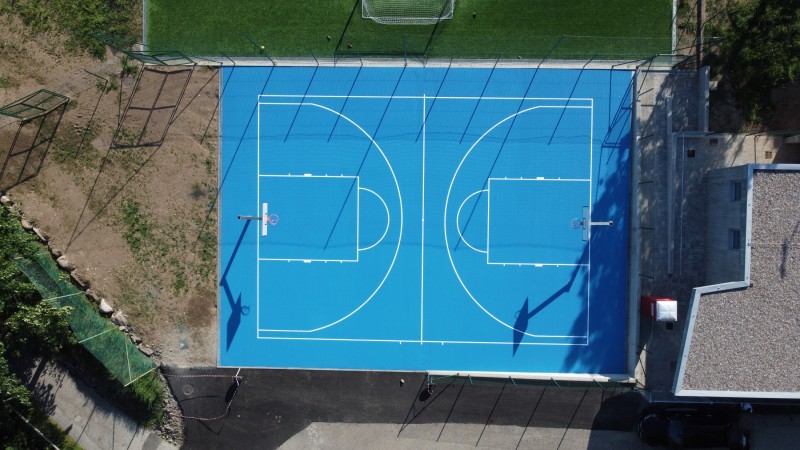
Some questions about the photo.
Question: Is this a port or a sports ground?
sports ground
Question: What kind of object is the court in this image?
basketball court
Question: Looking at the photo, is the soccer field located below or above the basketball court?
above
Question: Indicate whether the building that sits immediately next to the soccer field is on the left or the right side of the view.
right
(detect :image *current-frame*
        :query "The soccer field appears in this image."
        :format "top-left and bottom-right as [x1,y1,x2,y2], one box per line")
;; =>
[142,0,678,59]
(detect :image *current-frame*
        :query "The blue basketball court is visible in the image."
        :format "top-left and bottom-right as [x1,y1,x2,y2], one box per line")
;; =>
[217,66,634,375]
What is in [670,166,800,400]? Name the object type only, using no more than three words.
building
